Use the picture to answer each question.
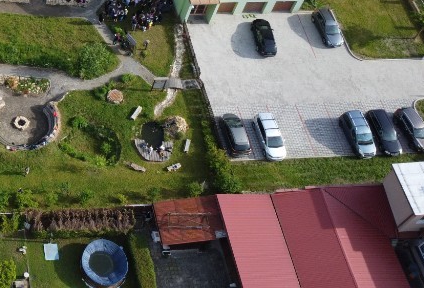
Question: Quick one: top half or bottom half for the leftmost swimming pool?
bottom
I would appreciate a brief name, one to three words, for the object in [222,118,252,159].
car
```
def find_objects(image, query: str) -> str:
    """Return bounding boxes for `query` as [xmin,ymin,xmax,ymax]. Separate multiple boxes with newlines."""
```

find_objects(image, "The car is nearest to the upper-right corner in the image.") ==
[316,13,345,48]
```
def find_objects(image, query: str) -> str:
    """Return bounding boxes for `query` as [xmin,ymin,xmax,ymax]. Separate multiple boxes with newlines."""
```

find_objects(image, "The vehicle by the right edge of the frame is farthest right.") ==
[399,112,424,154]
